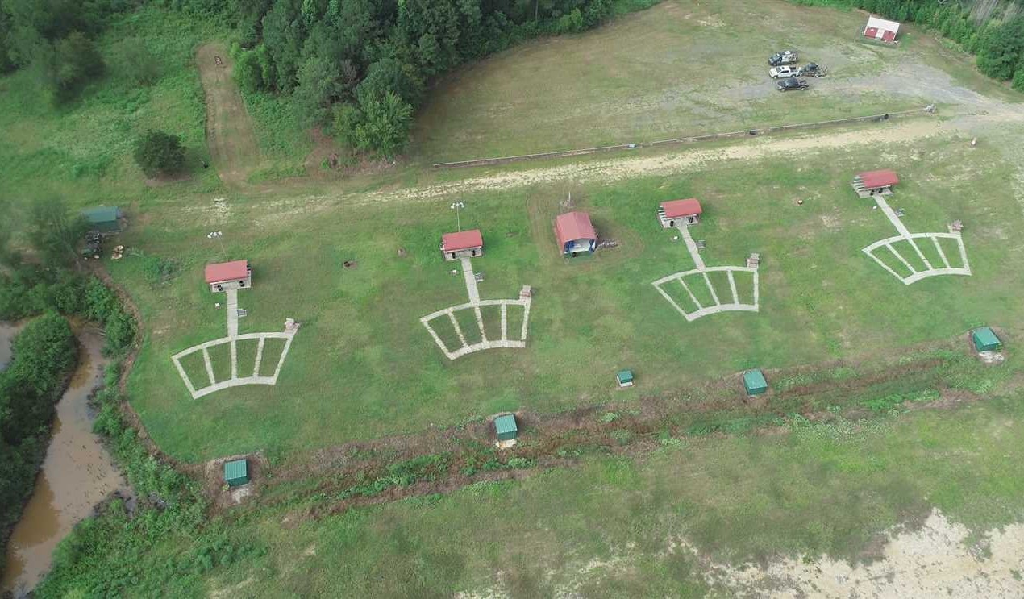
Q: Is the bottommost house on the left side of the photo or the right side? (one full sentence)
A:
You can find the bottommost house on the left side of the picture.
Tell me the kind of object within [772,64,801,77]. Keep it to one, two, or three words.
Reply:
vehicle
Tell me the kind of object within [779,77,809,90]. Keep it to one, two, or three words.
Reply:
vehicle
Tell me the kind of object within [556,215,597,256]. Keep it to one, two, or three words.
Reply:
shed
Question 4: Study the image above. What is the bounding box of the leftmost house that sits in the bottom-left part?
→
[227,457,249,483]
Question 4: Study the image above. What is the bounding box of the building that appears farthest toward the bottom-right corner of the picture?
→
[970,326,999,348]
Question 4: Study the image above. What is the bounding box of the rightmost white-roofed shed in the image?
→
[864,19,901,42]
